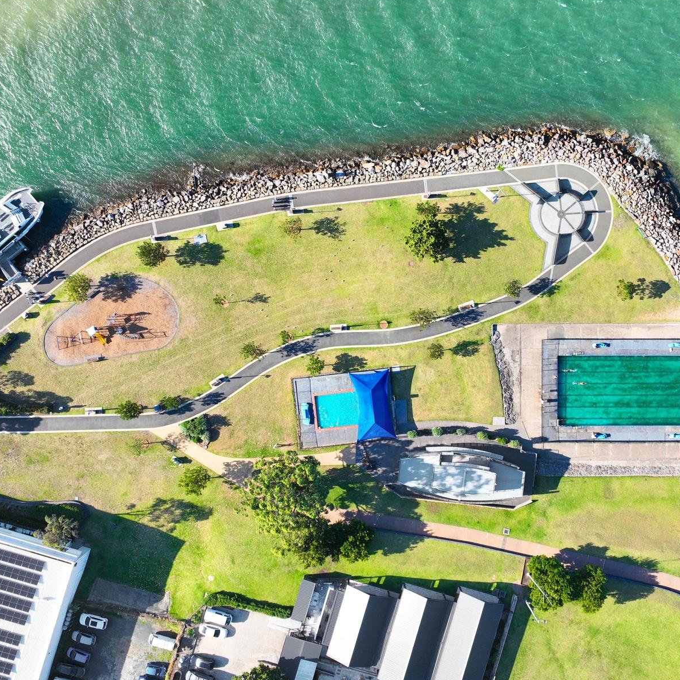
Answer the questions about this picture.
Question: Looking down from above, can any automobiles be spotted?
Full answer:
Yes, there's an automobile here.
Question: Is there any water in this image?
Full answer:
Yes, the picture does contain water.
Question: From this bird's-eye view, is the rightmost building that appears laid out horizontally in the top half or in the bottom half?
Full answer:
The rightmost building that appears laid out horizontally is in the bottom half of the image.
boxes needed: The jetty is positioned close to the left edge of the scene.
[0,238,33,291]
